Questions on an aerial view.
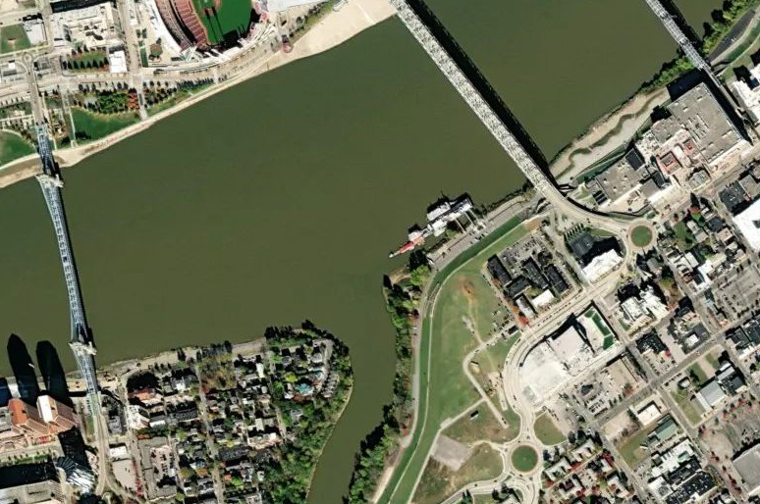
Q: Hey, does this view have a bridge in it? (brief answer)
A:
Yes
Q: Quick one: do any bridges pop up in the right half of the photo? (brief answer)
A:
Yes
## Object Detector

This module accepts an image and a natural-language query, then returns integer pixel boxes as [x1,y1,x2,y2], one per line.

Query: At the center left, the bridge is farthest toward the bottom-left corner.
[25,59,109,448]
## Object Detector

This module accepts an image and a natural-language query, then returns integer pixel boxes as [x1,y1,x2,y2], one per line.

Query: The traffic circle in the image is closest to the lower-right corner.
[507,441,540,474]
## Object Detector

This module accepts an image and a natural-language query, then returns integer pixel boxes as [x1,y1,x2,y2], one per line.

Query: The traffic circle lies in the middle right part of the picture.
[627,220,657,250]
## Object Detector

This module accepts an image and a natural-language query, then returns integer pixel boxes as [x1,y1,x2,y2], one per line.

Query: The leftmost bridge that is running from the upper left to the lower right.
[387,0,628,233]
